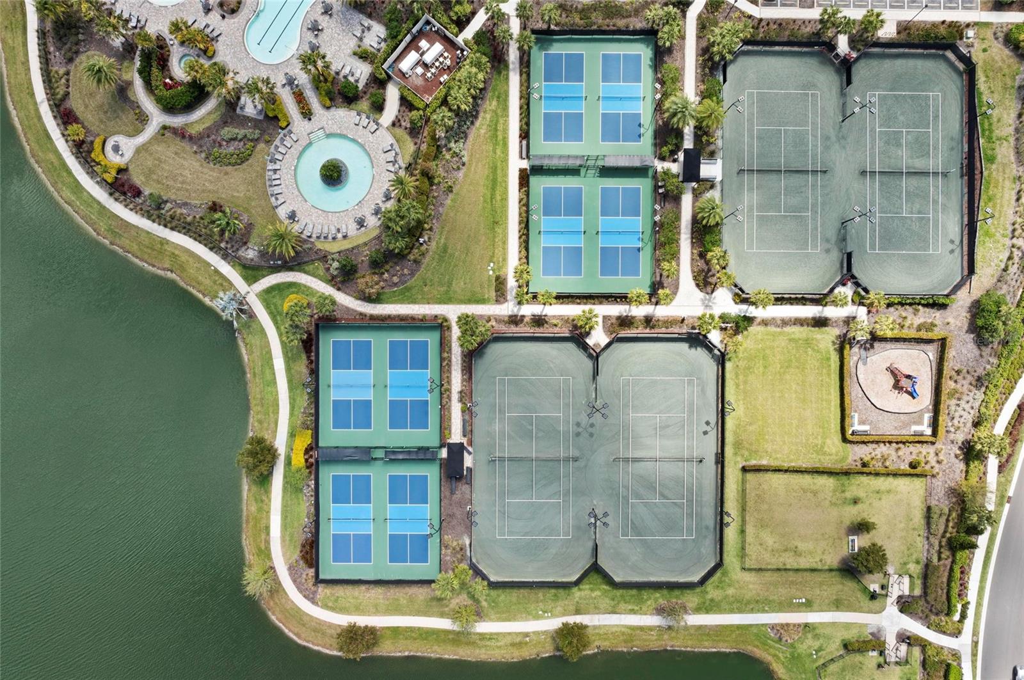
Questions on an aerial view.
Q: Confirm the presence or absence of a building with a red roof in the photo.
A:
No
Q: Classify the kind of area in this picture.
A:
sports ground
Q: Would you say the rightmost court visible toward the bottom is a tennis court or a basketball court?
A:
tennis court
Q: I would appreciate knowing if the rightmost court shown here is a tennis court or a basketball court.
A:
tennis court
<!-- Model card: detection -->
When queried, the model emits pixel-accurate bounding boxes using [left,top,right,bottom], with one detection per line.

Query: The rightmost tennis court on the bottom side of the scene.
[597,334,721,581]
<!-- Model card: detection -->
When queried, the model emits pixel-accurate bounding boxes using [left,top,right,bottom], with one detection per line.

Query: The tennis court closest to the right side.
[846,52,963,294]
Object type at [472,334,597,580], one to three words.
tennis court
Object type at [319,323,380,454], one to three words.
sports court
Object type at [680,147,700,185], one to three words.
building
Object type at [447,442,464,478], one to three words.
building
